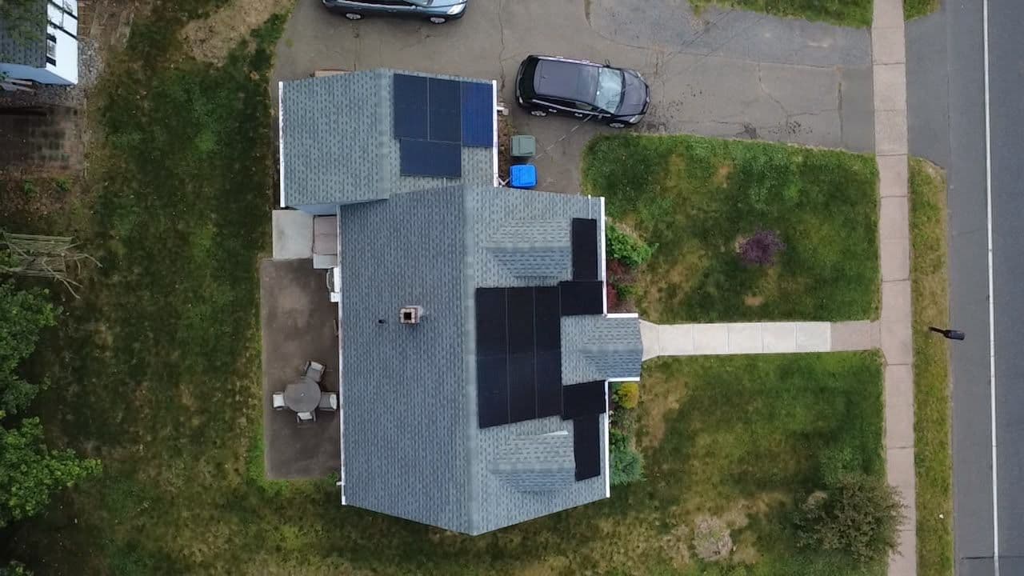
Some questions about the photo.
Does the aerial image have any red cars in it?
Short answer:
No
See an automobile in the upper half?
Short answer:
Yes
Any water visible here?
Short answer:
No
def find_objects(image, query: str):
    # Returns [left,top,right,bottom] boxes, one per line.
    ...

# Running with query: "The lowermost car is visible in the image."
[515,57,650,129]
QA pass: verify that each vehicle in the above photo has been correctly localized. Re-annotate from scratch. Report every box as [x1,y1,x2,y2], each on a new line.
[515,57,650,129]
[320,0,466,26]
